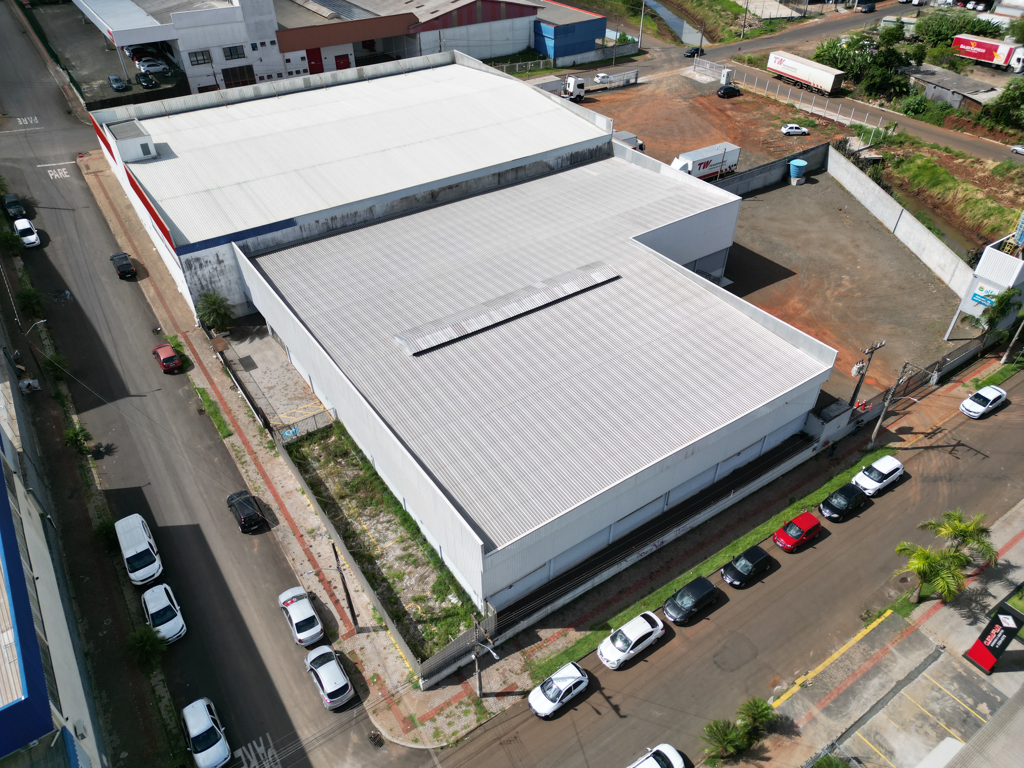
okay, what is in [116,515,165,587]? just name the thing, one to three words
van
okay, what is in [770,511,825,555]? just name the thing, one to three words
car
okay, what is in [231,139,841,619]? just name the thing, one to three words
warehouse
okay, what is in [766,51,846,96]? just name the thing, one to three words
trailer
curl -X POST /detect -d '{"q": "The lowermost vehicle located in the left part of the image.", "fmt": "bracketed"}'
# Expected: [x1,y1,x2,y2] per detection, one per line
[180,695,232,768]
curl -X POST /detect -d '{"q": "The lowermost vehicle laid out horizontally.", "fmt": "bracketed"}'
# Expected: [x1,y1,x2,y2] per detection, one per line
[624,740,686,768]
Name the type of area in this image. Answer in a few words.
industrial area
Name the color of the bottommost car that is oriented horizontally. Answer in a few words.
white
